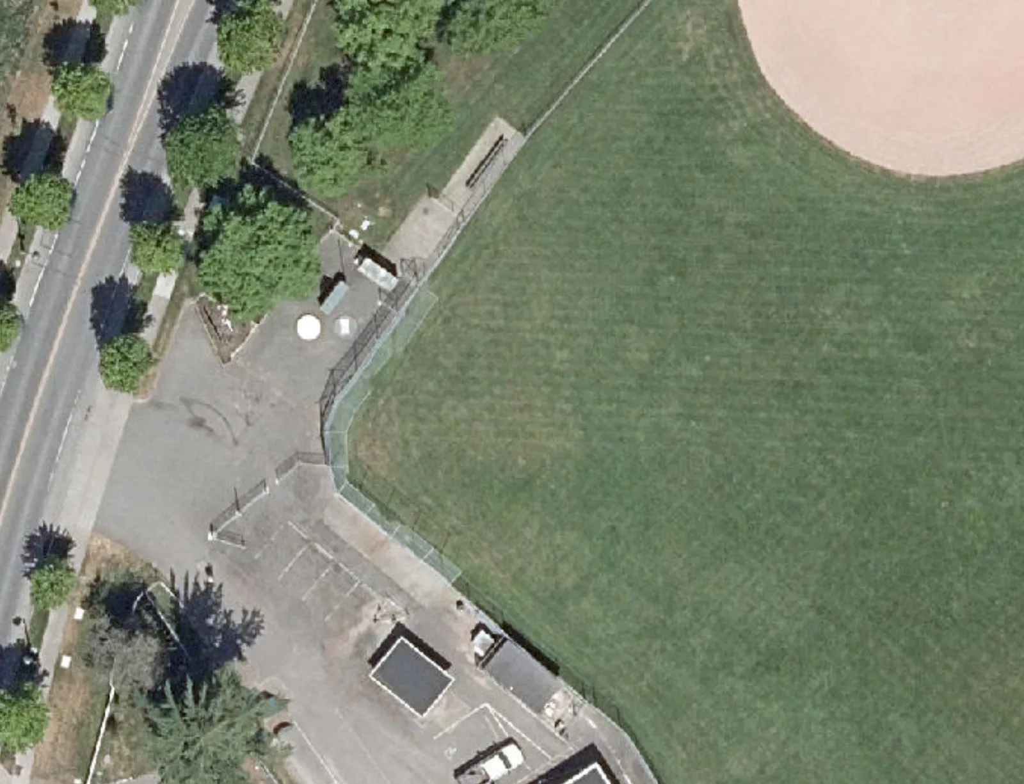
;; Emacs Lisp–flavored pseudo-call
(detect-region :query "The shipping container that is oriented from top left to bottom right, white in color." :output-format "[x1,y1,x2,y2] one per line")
[356,258,397,291]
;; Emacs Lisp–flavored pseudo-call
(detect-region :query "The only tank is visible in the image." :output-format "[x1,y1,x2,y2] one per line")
[296,315,321,339]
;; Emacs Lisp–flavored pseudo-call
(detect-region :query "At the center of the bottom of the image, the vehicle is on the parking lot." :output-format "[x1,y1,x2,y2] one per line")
[455,745,526,784]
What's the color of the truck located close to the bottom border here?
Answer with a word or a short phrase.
white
